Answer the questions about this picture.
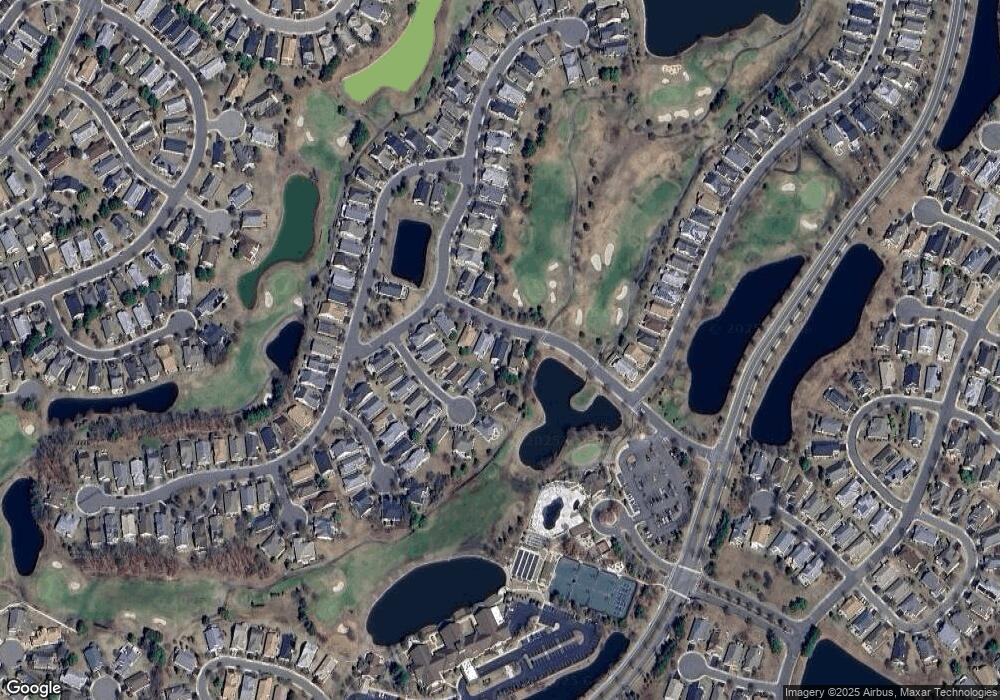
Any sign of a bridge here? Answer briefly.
No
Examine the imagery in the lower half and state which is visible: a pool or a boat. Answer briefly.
pool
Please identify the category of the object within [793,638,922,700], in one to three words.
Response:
pond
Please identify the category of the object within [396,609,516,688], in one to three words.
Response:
building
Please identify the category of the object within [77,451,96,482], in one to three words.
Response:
house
